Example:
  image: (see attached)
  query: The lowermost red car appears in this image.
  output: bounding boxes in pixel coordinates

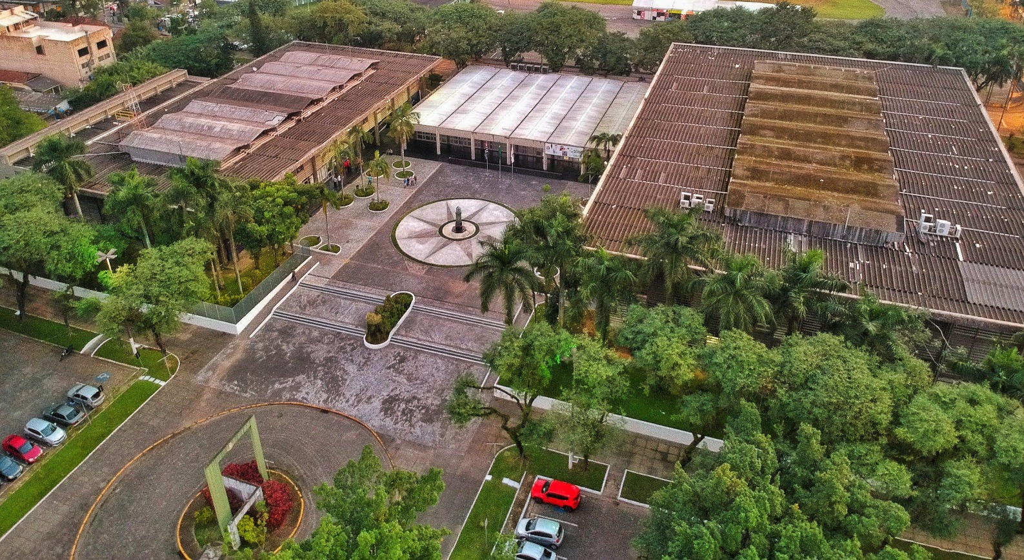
[532,478,583,512]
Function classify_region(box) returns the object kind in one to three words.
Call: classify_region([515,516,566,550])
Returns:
car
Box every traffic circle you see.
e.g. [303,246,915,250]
[71,401,386,560]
